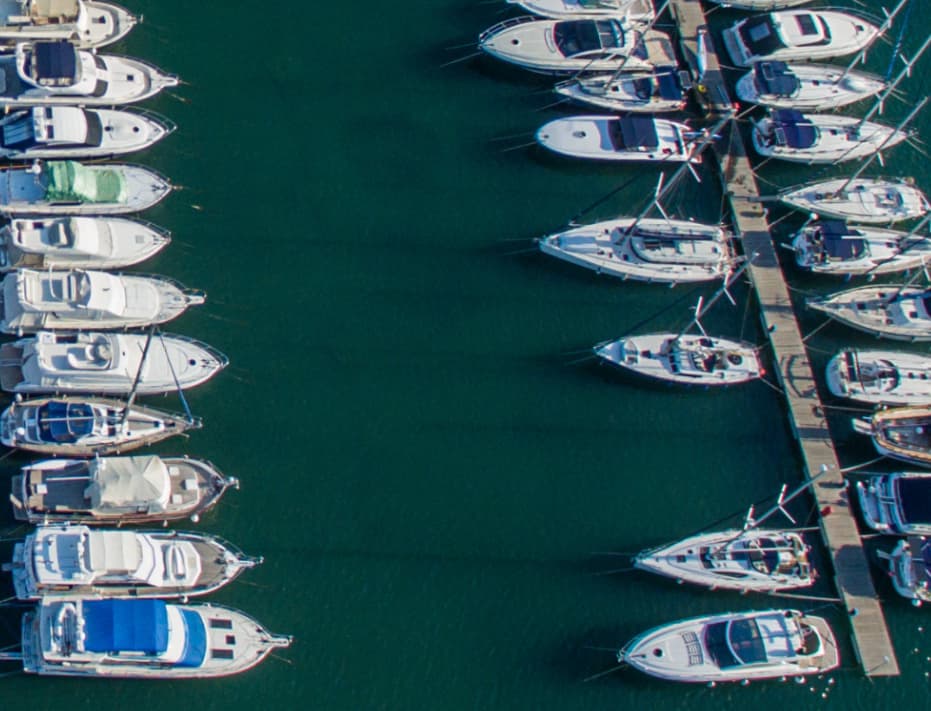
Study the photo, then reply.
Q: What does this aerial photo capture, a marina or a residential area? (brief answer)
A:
marina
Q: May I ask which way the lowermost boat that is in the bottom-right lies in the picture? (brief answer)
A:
from side to side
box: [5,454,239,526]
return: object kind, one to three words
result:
boat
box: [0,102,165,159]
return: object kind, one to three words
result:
boat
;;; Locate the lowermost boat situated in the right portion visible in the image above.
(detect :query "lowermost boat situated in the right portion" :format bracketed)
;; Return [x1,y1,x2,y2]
[621,610,846,685]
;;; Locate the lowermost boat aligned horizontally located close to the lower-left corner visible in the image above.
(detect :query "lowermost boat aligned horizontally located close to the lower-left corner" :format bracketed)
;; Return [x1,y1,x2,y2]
[0,586,292,680]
